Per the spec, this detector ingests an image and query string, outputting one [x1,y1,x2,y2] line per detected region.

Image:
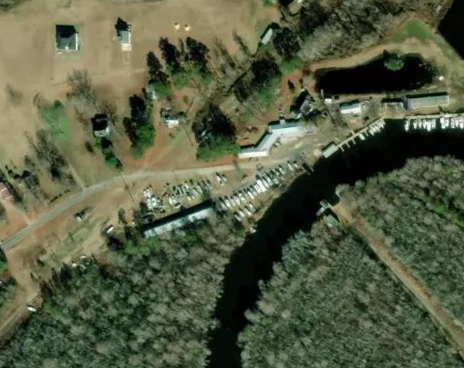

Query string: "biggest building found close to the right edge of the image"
[405,92,450,111]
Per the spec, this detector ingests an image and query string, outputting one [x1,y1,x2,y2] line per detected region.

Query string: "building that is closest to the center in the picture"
[238,147,269,161]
